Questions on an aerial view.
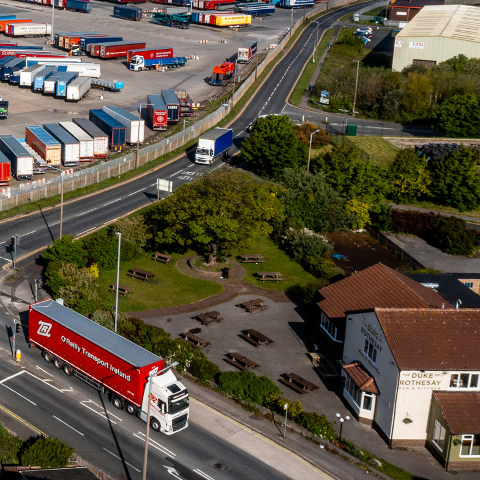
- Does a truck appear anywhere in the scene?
Yes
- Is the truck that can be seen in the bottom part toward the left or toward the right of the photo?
left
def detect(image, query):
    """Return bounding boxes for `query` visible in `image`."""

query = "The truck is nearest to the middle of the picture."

[193,129,230,164]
